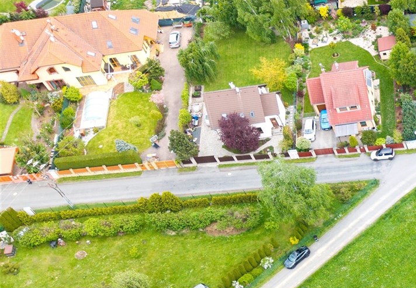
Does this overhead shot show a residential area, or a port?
residential area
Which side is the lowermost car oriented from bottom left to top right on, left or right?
right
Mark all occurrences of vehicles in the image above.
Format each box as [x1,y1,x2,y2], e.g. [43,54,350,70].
[370,145,394,160]
[316,107,331,128]
[282,243,310,267]
[190,281,207,288]
[301,117,314,139]
[166,28,180,46]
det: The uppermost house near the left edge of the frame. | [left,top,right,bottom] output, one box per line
[0,12,161,97]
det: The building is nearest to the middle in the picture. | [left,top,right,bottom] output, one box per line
[205,84,291,136]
